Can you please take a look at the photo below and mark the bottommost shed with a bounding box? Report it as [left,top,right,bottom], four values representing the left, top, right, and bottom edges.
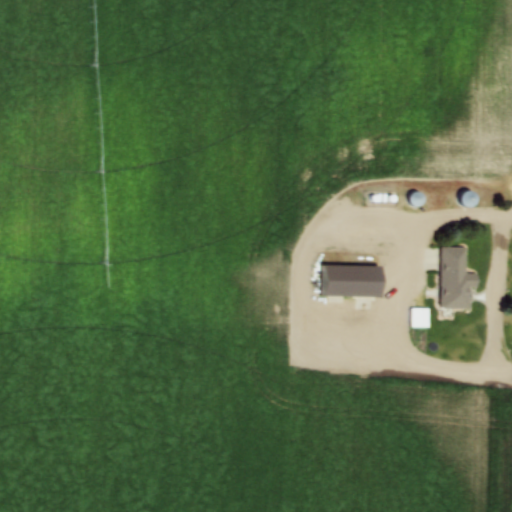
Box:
[410,308,430,328]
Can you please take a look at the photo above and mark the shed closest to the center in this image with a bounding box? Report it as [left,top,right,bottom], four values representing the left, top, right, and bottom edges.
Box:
[320,266,385,298]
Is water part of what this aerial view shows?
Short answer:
No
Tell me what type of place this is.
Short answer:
farmland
